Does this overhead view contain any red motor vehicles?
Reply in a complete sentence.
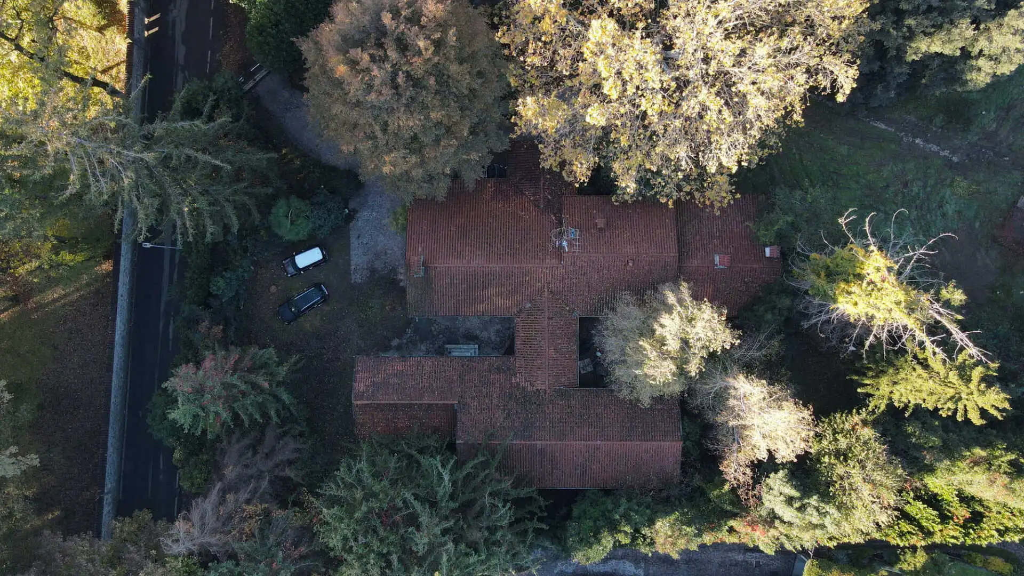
No, the scene contains no red motor vehicle.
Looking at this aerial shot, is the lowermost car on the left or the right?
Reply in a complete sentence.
The lowermost car is on the left side of the image.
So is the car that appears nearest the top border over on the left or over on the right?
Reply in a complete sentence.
It is on the left.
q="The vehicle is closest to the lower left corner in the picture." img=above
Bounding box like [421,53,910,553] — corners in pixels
[275,281,333,324]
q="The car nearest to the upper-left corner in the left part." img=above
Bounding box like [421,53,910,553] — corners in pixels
[282,243,329,276]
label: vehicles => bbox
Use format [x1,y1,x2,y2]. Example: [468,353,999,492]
[275,281,333,324]
[282,243,329,276]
